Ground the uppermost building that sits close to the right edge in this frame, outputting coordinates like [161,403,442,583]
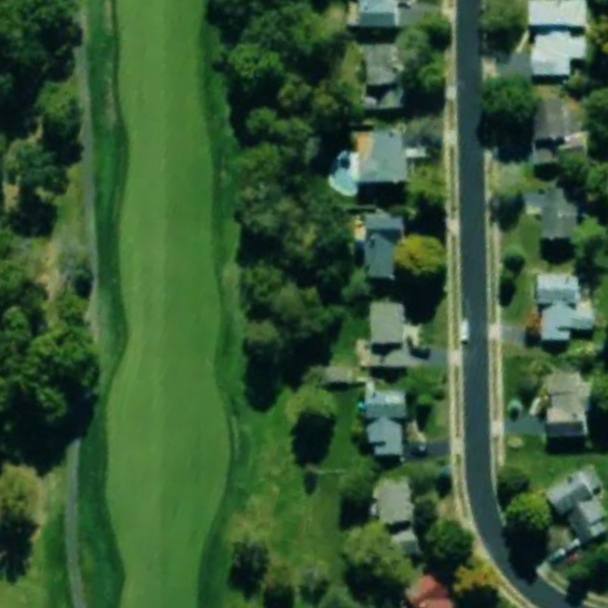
[529,0,588,77]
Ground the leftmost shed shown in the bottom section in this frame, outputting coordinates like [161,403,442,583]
[327,366,353,384]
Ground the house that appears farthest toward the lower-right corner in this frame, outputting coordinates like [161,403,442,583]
[545,465,608,549]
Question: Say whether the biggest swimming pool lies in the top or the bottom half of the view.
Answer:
top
